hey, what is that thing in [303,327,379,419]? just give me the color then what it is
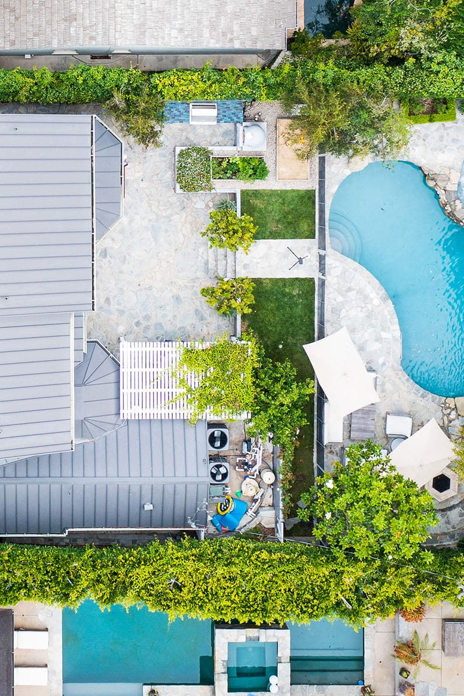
white umbrella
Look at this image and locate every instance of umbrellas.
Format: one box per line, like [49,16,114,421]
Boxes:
[386,417,458,485]
[303,327,379,419]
